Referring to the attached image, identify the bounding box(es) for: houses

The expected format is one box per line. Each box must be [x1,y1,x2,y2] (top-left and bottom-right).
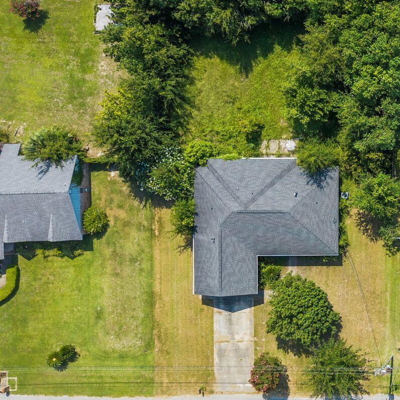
[193,158,340,297]
[0,143,92,260]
